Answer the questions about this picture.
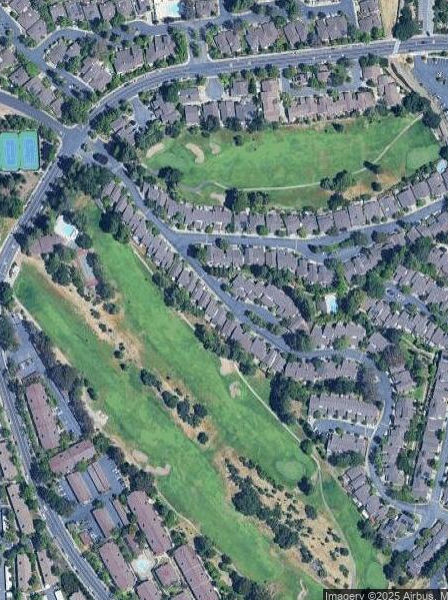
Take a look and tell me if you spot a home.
Yes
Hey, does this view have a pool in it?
Yes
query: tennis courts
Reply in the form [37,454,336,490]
[0,132,19,172]
[20,131,39,170]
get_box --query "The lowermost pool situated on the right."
[325,294,340,315]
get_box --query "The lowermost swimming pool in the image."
[130,551,156,579]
